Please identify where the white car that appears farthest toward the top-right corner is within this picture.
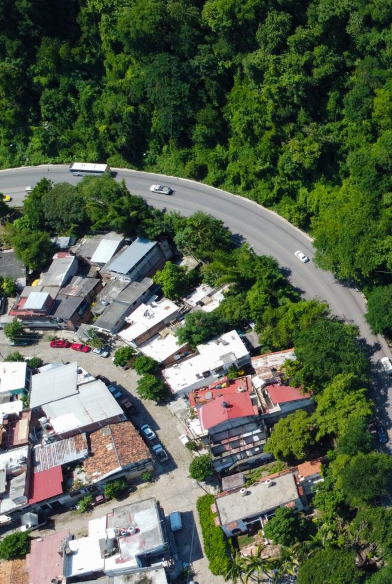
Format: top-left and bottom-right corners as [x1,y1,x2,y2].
[293,251,311,265]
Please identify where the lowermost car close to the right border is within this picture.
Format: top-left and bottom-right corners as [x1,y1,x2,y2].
[375,425,389,446]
